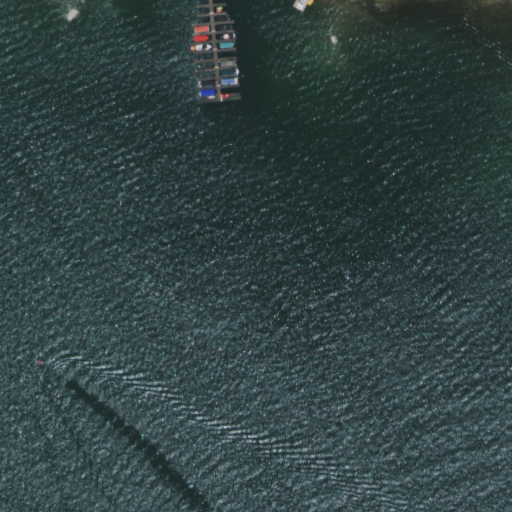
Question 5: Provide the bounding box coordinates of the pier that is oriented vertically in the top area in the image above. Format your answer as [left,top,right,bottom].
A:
[191,0,241,104]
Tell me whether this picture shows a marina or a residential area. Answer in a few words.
marina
